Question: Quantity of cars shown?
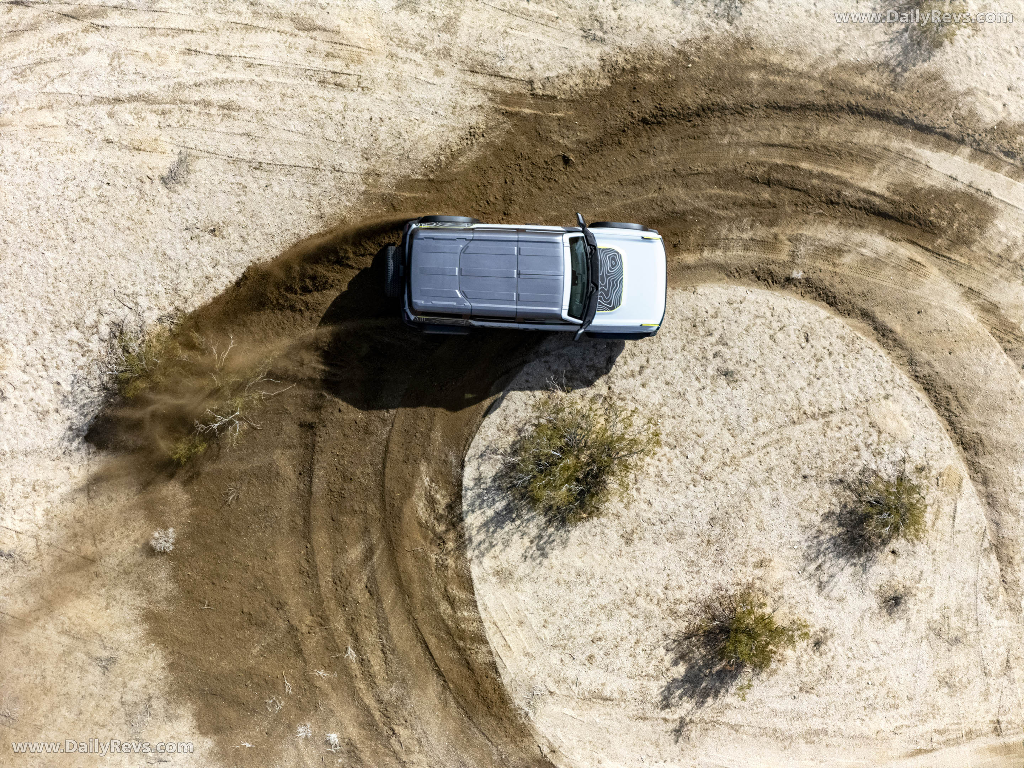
1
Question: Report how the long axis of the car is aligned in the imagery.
from side to side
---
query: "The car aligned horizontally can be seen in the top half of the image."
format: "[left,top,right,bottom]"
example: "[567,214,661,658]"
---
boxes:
[384,212,671,345]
